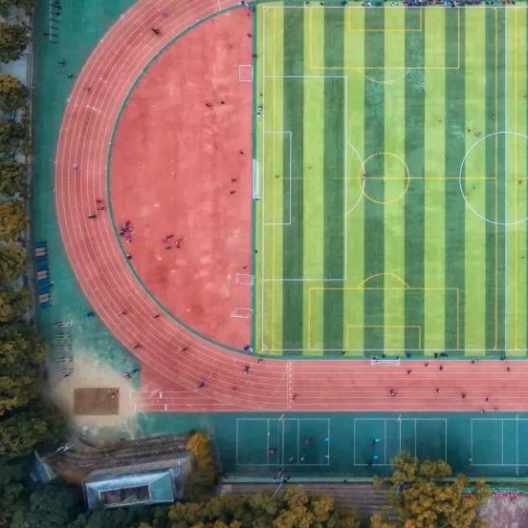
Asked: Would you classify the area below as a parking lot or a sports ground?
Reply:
sports ground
